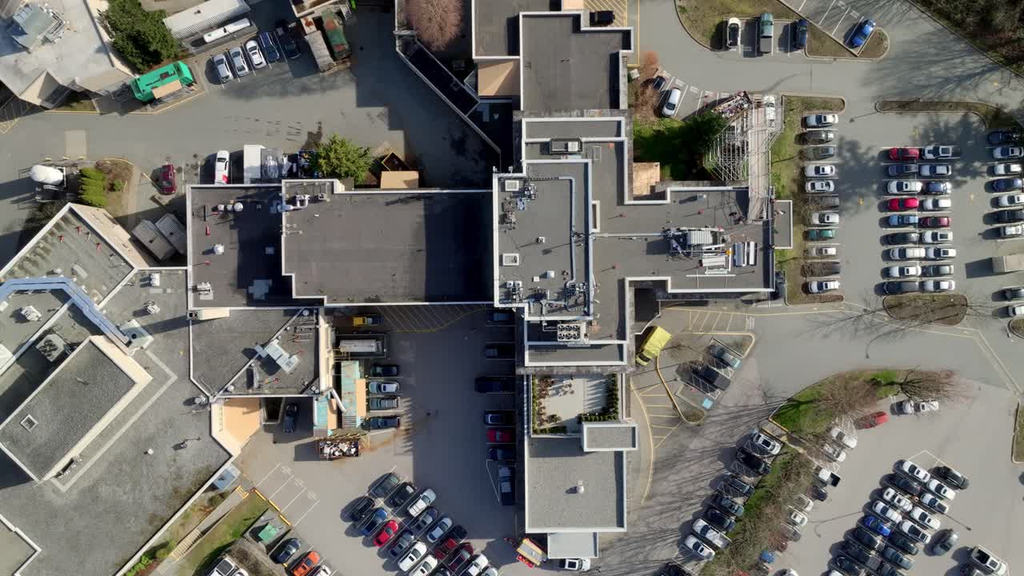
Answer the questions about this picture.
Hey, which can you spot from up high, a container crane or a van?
van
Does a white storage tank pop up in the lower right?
No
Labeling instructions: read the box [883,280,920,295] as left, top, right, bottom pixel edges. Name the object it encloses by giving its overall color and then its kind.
gray vehicle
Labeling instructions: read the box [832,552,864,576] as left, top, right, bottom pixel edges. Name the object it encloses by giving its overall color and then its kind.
black car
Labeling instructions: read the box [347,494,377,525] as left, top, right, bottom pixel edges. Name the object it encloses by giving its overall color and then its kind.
black truck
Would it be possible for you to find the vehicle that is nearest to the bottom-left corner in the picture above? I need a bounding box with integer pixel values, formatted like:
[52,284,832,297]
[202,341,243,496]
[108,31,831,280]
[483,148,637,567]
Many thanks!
[212,553,246,576]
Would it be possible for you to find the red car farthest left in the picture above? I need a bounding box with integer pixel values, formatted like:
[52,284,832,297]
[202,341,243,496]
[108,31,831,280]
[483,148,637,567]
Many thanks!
[160,164,177,195]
